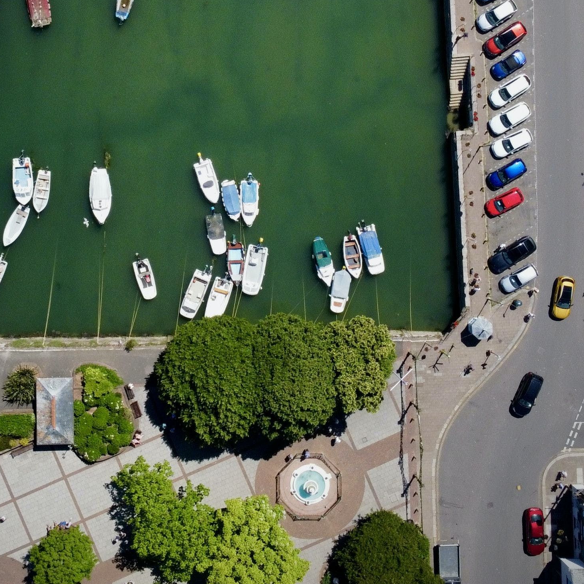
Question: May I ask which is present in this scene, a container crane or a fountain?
fountain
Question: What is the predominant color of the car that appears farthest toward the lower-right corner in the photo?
red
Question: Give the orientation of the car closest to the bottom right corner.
vertically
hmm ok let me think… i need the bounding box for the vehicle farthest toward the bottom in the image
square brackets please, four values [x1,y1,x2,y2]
[438,543,465,584]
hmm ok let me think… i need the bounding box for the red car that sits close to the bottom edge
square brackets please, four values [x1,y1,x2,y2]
[525,507,549,556]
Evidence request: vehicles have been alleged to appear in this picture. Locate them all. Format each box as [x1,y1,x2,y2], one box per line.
[491,49,529,79]
[550,276,577,319]
[508,371,543,418]
[488,100,534,135]
[476,0,520,31]
[491,127,535,160]
[486,159,530,191]
[499,262,542,294]
[488,72,534,107]
[483,21,529,58]
[438,543,465,584]
[488,235,540,274]
[485,188,527,219]
[525,507,549,556]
